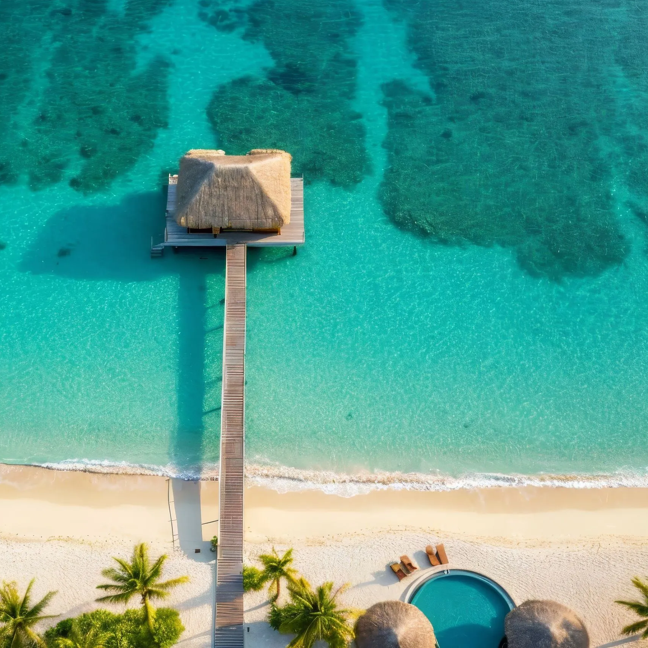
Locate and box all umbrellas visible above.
[352,603,438,648]
[501,601,592,648]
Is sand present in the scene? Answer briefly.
Yes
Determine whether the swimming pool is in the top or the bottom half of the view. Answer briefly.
bottom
